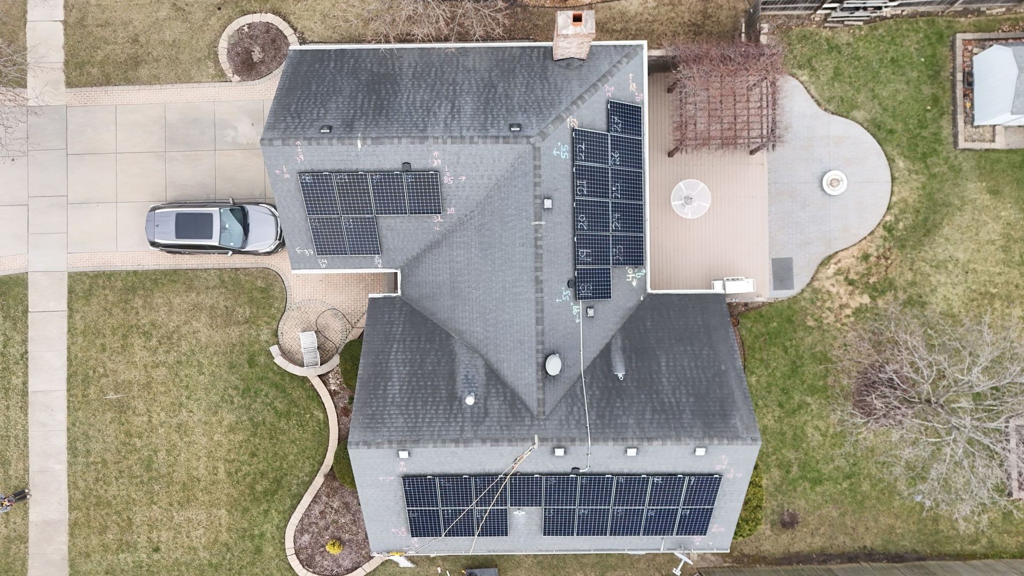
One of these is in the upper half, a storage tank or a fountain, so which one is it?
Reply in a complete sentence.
The feature located in the upper half is a fountain.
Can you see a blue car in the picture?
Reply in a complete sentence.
No, there isn't any blue car down there.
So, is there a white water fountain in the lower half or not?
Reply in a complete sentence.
No, the scene shows no white water fountain in the lower half.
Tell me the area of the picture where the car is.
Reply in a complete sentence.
The car appears toward the left of the photo.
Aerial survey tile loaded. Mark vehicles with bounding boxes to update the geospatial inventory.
[142,195,287,260]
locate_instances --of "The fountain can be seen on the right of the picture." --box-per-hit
[822,170,848,195]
